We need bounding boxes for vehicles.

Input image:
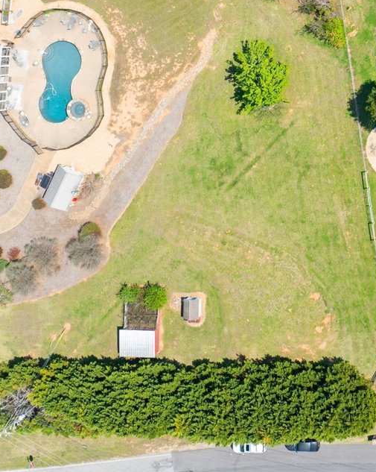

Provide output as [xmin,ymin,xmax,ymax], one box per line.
[234,438,268,457]
[285,437,320,455]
